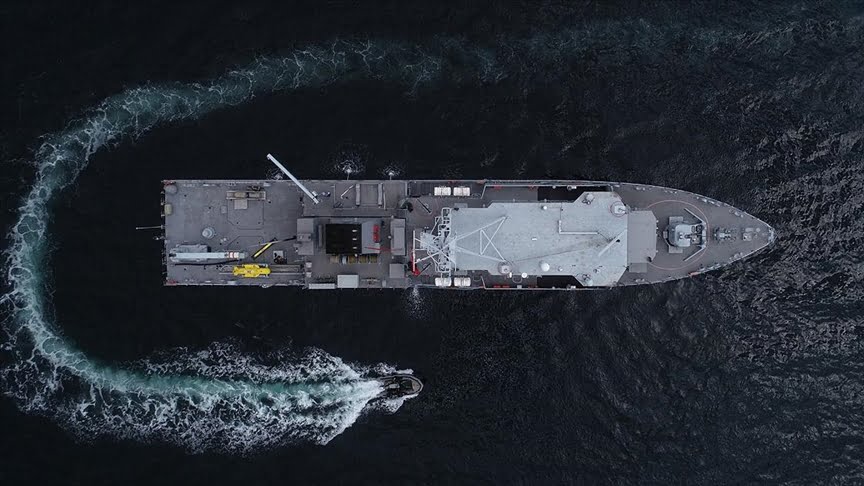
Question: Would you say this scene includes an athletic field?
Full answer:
No, the frame has no athletic field in it.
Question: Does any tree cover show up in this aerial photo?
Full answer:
No, there is no tree cover in the image.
